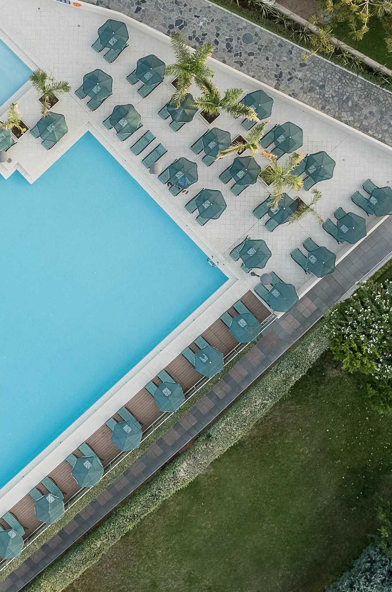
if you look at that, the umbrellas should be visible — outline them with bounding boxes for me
[79,68,112,99]
[364,182,392,213]
[230,154,262,185]
[36,492,68,523]
[153,379,186,411]
[335,210,368,242]
[200,124,232,156]
[0,527,24,559]
[245,87,276,120]
[94,19,128,52]
[190,188,224,221]
[268,283,300,316]
[111,104,142,136]
[272,124,303,155]
[229,312,261,345]
[75,451,107,484]
[166,93,198,126]
[111,416,142,447]
[306,151,338,184]
[163,156,196,189]
[37,112,70,146]
[132,55,164,87]
[238,237,272,269]
[197,347,228,378]
[306,245,337,276]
